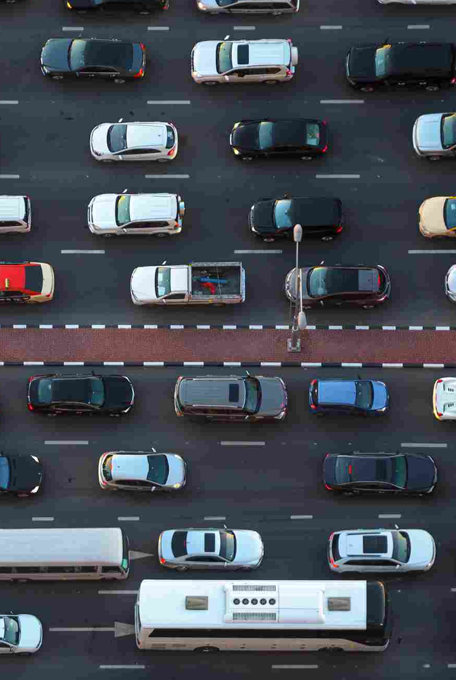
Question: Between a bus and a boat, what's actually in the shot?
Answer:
bus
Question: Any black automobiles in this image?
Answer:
Yes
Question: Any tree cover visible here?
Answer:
No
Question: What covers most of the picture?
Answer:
paved ground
